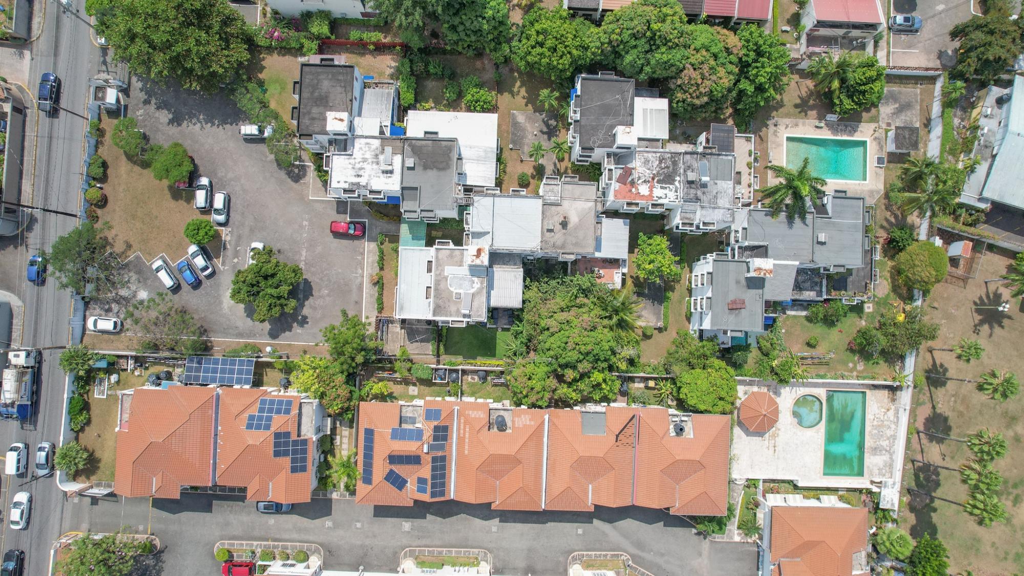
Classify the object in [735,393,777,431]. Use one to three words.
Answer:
gazebo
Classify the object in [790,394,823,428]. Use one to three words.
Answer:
swimming pool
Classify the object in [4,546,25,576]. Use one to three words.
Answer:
car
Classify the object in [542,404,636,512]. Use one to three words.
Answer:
house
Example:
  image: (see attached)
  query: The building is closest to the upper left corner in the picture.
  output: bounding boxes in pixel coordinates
[0,91,30,120]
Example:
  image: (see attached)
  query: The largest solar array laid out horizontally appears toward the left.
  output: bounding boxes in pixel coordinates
[184,356,261,385]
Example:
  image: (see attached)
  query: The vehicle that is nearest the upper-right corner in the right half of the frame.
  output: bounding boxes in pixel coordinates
[886,15,922,33]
